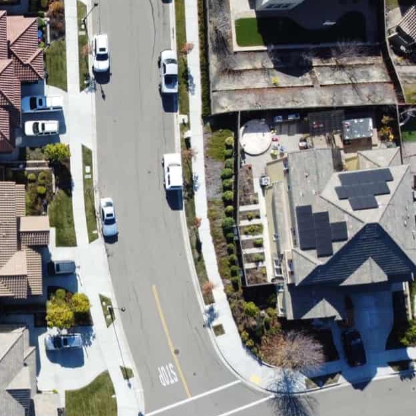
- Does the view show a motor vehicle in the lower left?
Yes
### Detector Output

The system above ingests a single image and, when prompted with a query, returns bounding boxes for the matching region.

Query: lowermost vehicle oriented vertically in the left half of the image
[99,198,119,238]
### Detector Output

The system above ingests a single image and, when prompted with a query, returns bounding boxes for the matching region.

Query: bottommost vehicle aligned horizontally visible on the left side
[44,333,83,352]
